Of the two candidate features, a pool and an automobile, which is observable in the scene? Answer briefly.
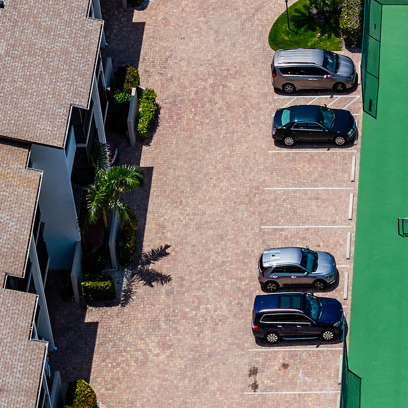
automobile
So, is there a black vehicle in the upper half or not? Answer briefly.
Yes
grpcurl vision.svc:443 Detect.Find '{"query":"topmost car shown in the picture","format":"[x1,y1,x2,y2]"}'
[272,45,358,94]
